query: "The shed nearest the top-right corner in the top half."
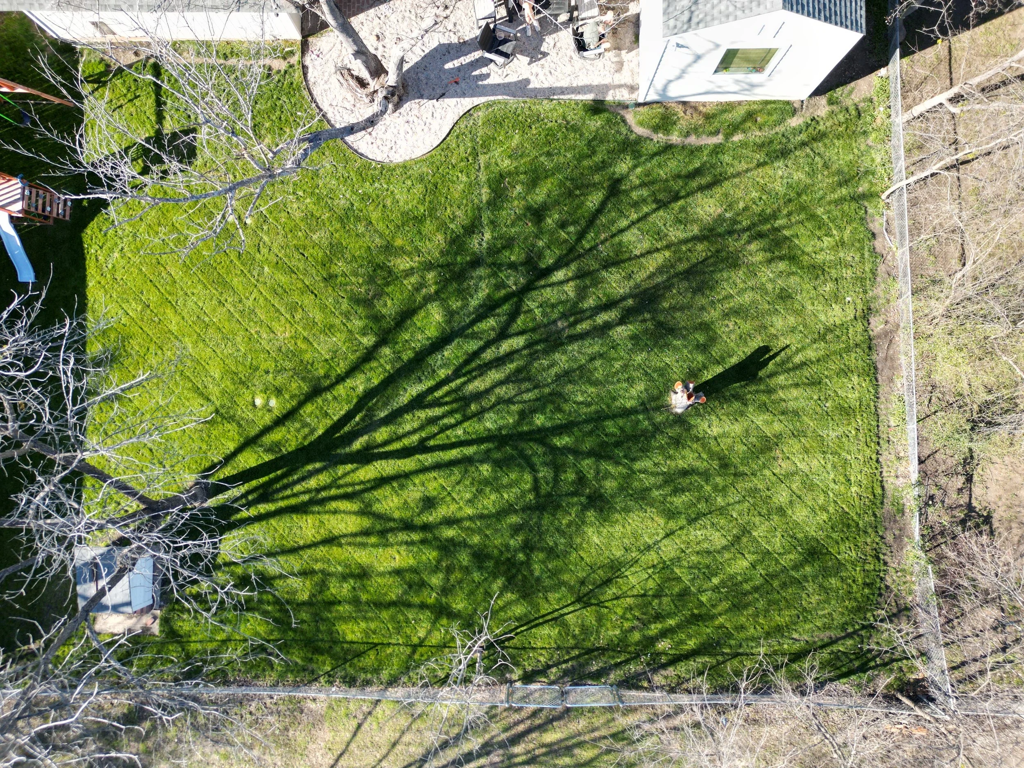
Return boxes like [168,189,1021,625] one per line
[637,0,874,103]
